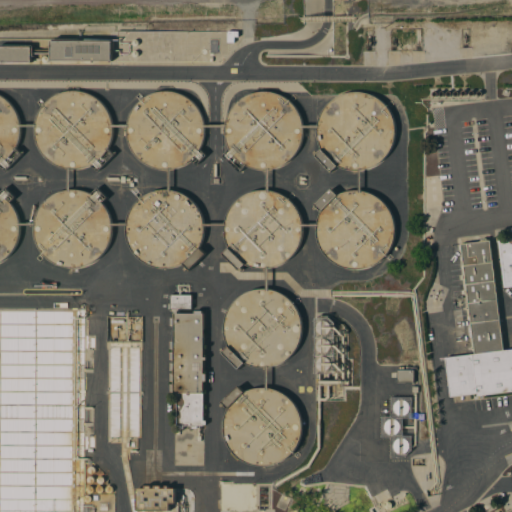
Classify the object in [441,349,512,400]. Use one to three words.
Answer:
building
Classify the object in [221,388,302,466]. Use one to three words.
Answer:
storage tank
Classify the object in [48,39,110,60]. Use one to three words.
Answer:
shed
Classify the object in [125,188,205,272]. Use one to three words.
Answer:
storage tank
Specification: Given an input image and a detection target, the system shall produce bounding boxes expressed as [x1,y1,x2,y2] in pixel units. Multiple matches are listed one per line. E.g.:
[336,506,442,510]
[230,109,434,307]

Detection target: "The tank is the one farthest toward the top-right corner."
[316,92,396,171]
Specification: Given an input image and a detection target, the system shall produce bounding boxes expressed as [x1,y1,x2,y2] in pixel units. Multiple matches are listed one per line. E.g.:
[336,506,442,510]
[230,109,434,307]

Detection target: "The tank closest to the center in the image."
[222,190,302,269]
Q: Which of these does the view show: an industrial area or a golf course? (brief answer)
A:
industrial area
